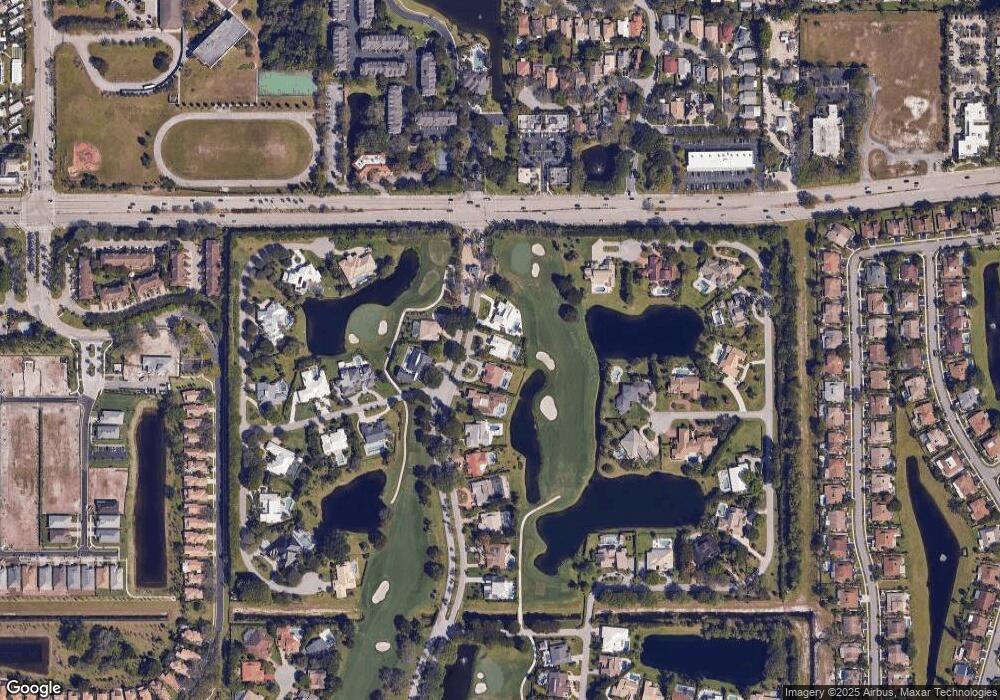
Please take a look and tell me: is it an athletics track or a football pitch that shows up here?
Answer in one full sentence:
I can see an athletics track in this picture.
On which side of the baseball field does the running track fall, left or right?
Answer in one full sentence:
Looking at the photo, the running track lies to the right of the baseball field.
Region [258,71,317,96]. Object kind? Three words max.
sports court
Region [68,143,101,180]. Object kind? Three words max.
baseball field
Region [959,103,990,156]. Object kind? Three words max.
building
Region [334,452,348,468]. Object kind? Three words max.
swimming pool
